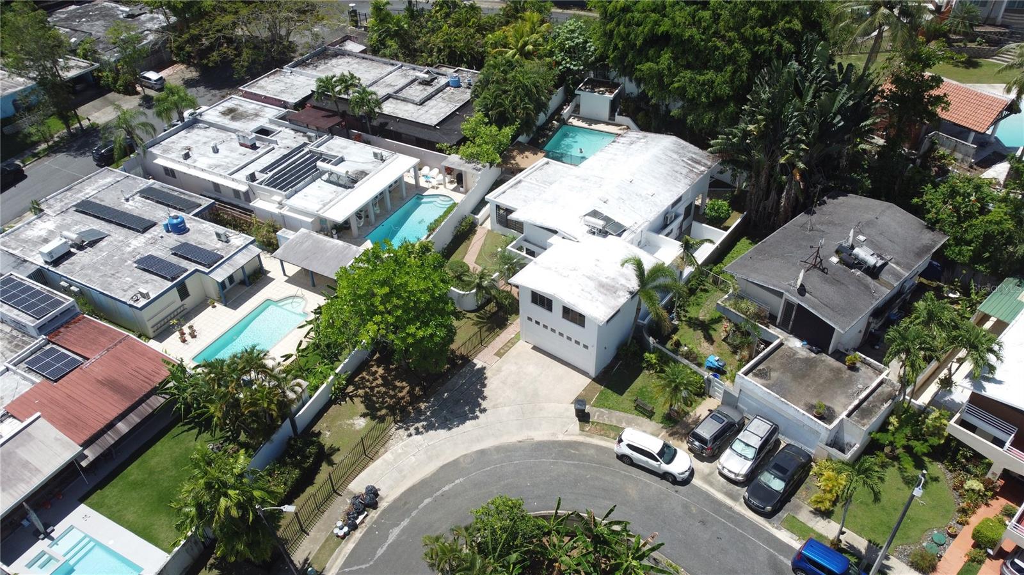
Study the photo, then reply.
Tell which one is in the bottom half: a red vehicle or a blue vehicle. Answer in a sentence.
Looking in the bottom half, you will find a blue vehicle.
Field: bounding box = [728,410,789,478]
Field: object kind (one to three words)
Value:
car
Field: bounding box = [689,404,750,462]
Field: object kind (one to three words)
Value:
car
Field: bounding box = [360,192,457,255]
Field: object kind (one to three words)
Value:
swimming pool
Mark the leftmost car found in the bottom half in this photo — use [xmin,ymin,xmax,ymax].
[613,428,696,486]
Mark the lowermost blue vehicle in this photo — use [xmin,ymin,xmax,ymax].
[786,529,866,575]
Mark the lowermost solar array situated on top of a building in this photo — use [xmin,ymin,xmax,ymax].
[24,345,82,382]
